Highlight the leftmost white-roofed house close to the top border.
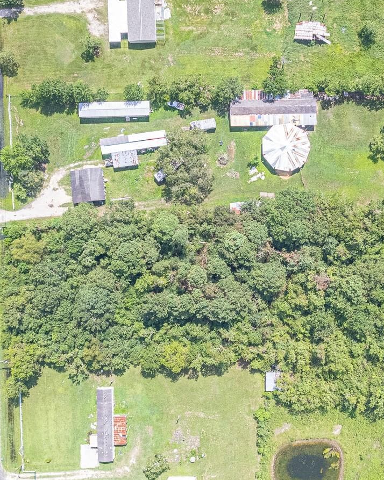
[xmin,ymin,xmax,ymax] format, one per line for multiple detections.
[108,0,166,46]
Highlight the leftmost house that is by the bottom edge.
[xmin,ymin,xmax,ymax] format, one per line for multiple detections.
[90,387,128,462]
